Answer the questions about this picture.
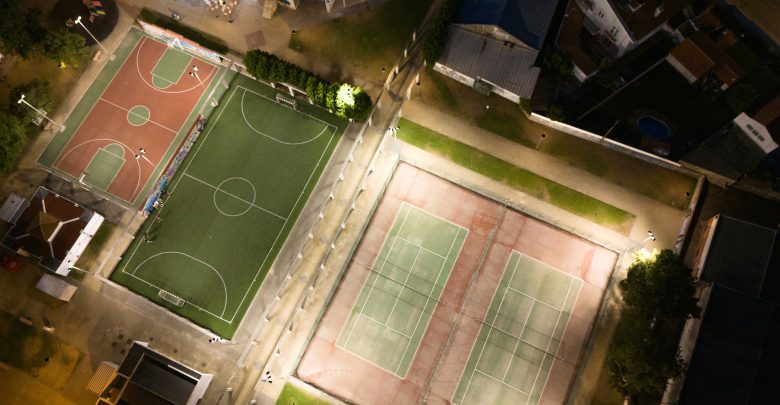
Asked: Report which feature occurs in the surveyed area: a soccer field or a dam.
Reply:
soccer field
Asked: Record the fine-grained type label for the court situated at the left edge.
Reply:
basketball court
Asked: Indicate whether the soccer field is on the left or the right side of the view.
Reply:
left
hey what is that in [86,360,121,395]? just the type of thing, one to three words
shed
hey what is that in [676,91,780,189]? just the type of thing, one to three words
house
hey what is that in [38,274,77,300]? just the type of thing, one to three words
shed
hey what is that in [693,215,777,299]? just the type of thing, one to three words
building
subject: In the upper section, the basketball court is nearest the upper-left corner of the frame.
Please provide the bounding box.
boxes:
[33,27,225,217]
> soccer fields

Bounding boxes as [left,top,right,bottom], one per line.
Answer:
[112,80,348,339]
